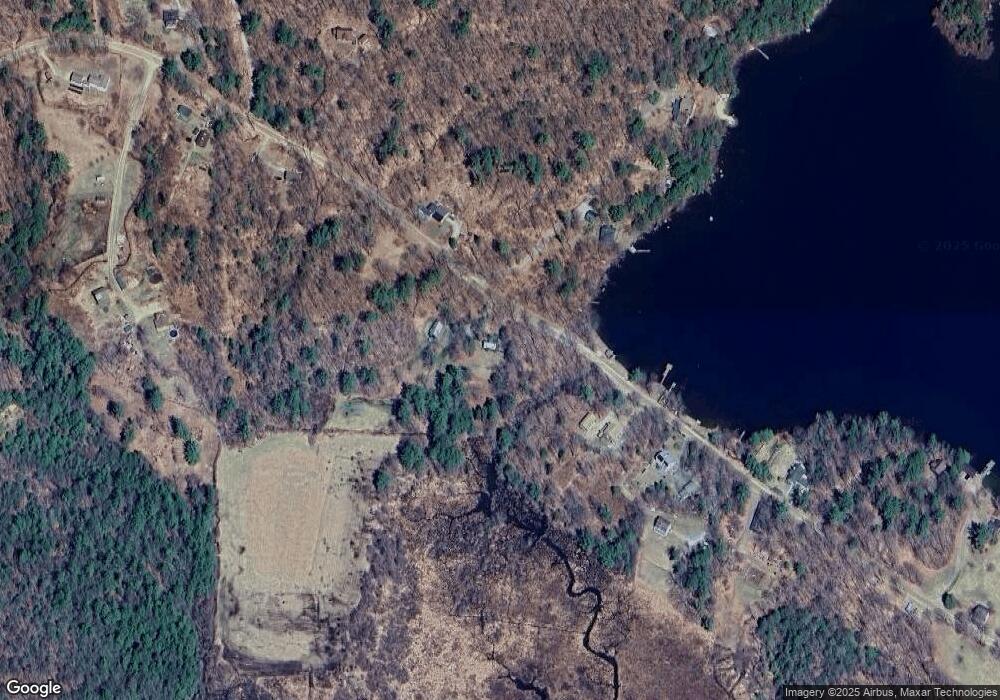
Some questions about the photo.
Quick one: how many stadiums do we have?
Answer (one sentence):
The count of stadiums is 0.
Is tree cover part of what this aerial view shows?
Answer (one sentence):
Yes, some tree cover is visible.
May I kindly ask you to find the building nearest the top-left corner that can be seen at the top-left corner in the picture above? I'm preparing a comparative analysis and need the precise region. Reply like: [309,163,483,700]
[72,70,108,90]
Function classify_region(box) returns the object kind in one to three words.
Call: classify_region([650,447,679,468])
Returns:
house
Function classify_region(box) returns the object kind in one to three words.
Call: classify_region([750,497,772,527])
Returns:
building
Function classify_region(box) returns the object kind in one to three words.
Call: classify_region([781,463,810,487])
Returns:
house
